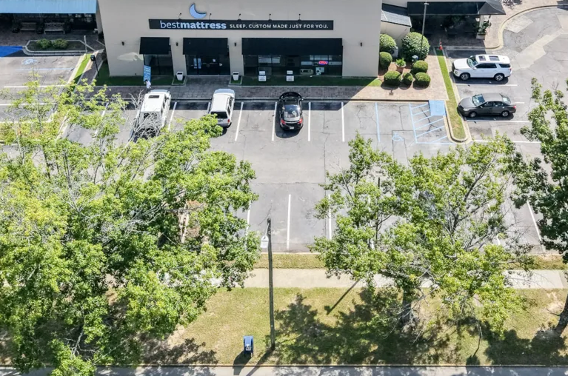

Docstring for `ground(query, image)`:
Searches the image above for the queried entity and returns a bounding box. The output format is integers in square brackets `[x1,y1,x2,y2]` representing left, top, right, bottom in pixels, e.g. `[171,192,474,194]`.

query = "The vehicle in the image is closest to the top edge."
[450,52,512,80]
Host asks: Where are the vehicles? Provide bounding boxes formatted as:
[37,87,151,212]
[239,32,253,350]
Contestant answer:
[275,94,303,133]
[450,52,512,80]
[206,90,234,128]
[135,89,170,131]
[456,89,519,115]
